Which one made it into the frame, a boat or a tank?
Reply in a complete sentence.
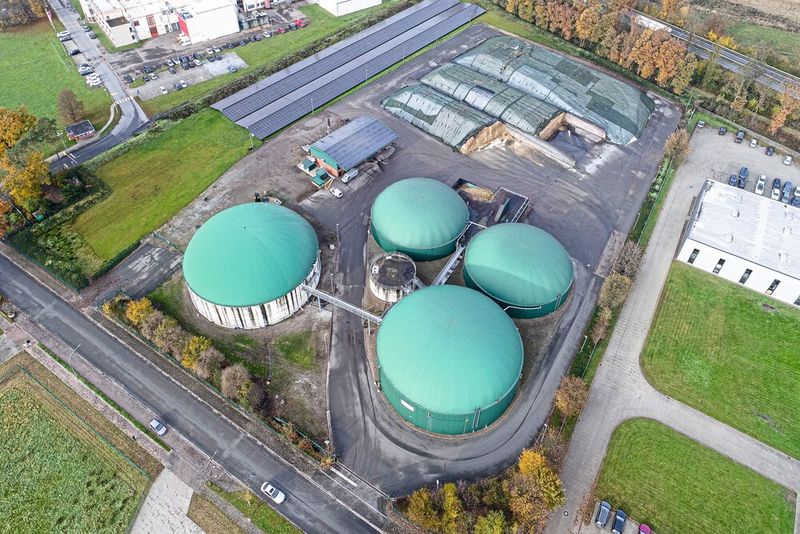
Visible in the photo is a tank.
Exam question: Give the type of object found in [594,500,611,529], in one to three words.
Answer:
car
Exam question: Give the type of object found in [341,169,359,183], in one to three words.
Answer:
vehicle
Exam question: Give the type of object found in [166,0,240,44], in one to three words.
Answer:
building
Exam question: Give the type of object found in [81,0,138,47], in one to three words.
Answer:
building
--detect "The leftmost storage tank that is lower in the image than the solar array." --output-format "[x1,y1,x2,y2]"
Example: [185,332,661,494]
[180,202,326,329]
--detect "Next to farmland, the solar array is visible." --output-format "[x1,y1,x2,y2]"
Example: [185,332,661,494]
[238,1,486,141]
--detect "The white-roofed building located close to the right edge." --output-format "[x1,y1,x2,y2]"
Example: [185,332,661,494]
[672,179,800,304]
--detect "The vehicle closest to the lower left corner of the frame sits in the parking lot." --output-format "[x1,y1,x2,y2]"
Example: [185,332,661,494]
[148,419,167,436]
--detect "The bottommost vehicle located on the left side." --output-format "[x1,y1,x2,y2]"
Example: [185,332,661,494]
[261,481,286,504]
